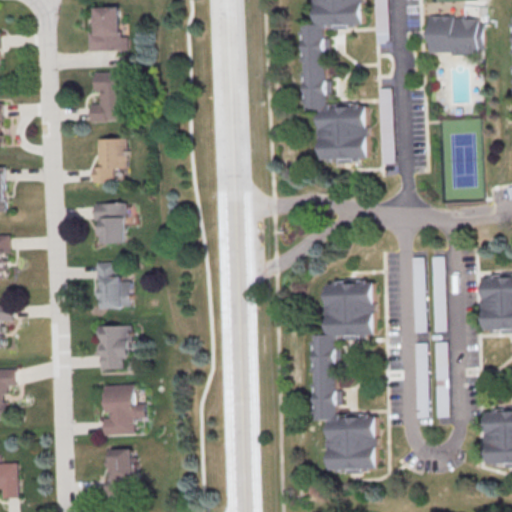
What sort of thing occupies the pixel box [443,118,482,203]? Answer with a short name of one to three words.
tennis court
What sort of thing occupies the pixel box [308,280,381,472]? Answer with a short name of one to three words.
building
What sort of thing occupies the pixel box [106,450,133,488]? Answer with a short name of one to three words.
house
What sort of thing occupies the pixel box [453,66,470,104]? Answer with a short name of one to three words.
swimming pool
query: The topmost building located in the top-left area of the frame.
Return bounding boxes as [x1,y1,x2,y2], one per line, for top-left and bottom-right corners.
[87,8,132,50]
